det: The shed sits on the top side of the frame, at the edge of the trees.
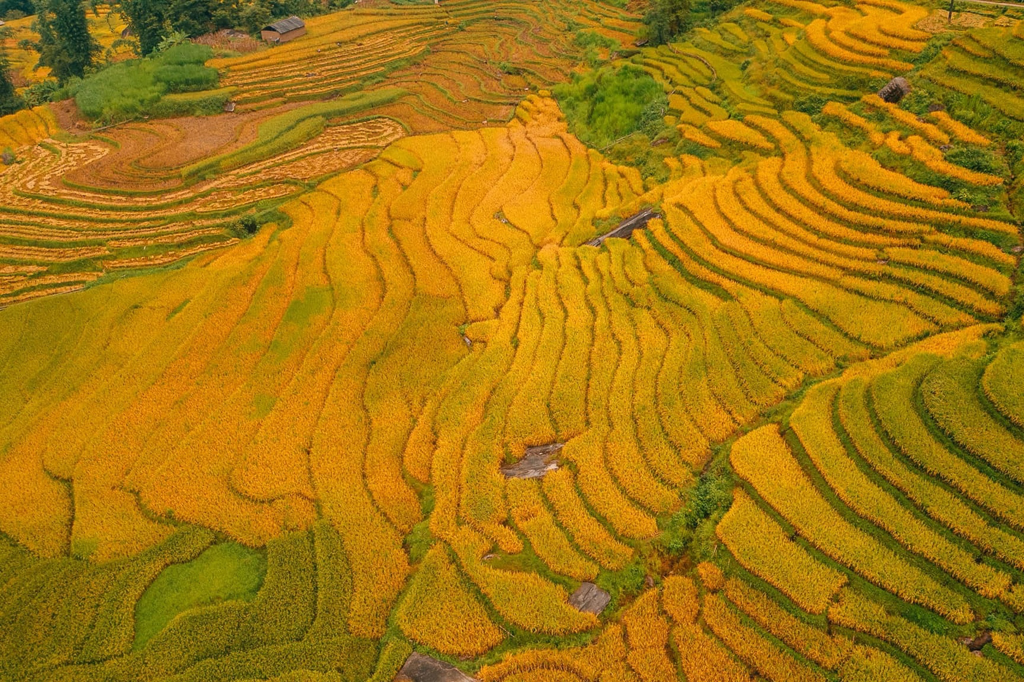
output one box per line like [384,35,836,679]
[261,15,309,44]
